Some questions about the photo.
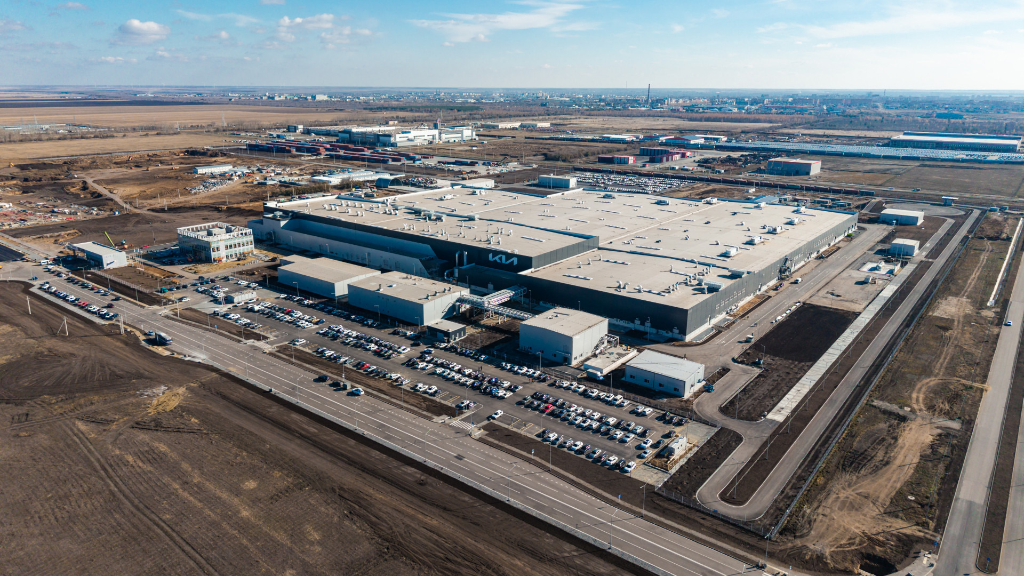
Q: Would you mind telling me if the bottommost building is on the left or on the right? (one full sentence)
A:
It is on the right.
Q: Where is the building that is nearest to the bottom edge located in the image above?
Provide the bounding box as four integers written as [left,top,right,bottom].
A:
[646,432,691,472]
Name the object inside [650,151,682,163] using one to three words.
shed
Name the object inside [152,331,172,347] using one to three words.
vehicle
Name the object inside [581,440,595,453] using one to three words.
vehicle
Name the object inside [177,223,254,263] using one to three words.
building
